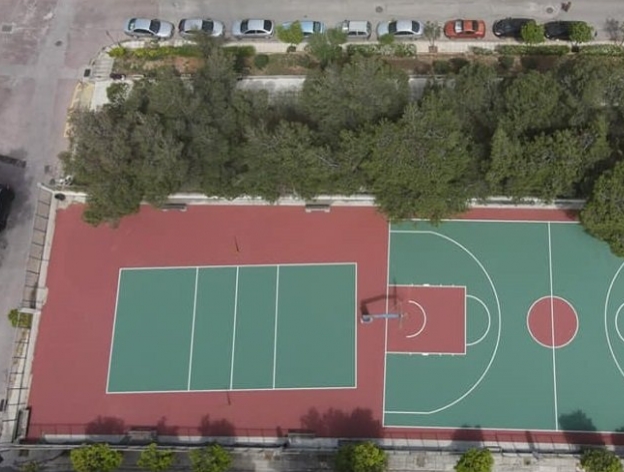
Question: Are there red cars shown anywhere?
Yes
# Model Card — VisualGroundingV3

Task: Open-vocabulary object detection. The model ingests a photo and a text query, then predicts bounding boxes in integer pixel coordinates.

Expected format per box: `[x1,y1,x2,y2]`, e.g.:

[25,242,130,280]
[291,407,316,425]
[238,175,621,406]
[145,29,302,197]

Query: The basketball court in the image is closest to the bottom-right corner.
[381,219,624,433]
